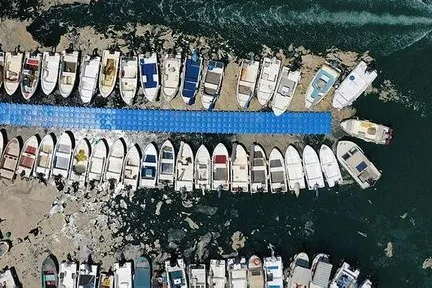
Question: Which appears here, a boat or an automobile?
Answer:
boat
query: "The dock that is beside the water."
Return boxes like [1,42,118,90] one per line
[0,102,333,136]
